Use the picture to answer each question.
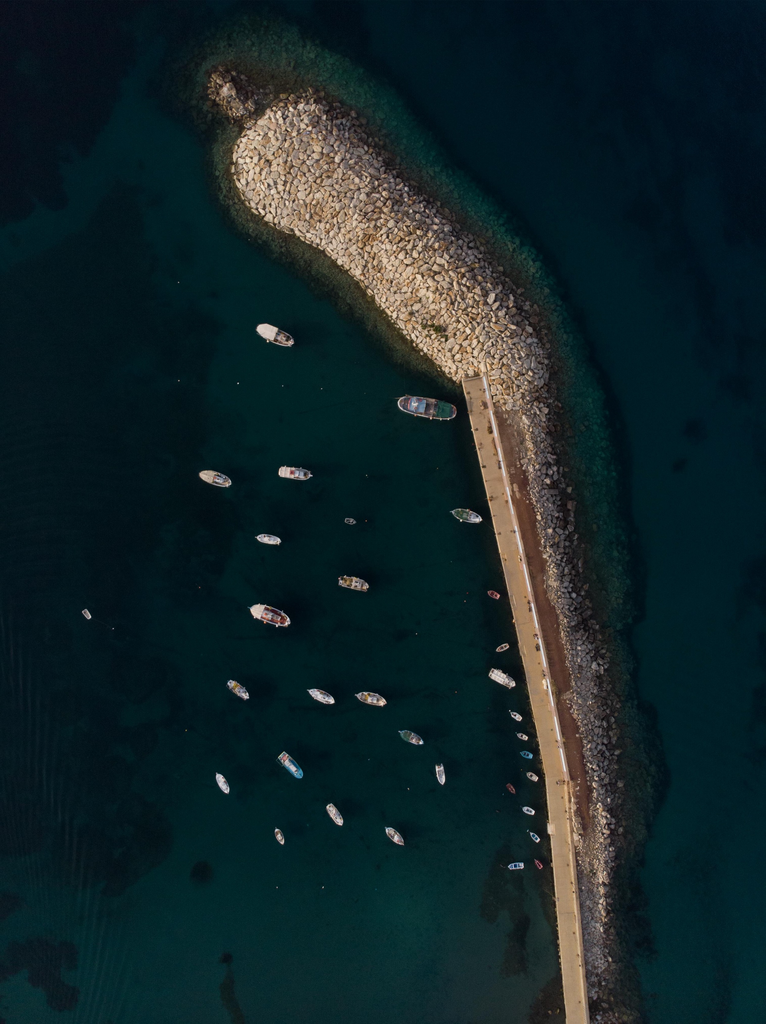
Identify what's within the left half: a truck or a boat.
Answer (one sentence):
It is a boat that can be seen within the left half.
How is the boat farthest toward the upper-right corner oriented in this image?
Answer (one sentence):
In this picture, the boat farthest toward the upper-right corner is oriented from left to right.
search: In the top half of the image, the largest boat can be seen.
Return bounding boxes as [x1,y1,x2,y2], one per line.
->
[398,395,457,417]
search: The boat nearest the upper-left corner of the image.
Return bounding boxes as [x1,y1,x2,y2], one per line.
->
[255,324,294,345]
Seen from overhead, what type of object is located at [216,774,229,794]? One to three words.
boat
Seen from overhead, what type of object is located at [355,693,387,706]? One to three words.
boat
